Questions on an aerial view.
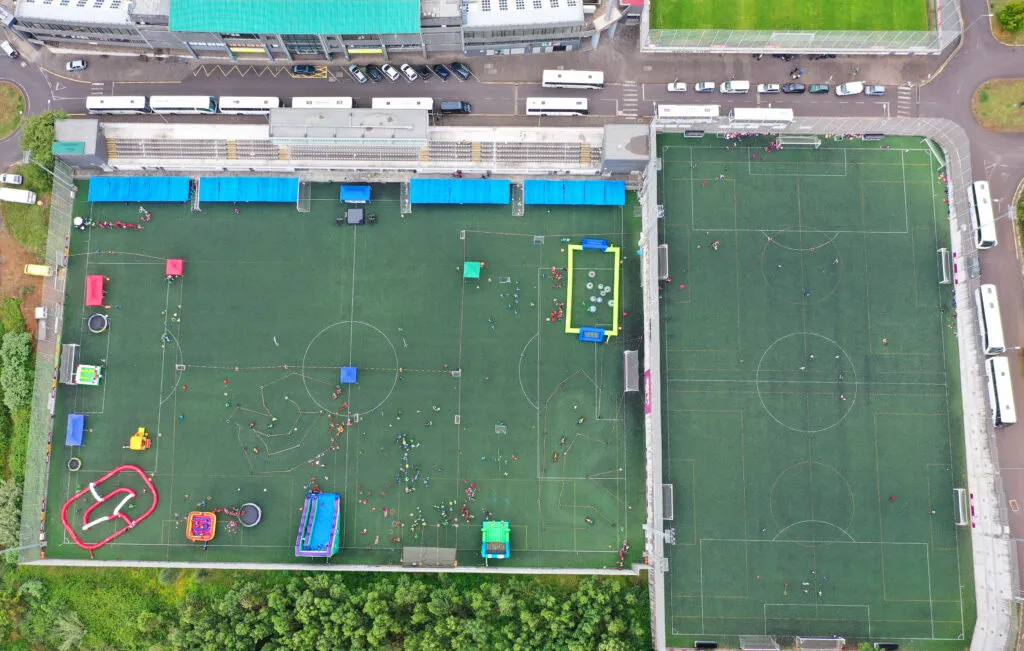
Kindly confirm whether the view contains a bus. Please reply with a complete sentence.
Yes, I can see a bus in this picture.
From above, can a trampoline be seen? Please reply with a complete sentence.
Yes, looking at the shot, I can spot a trampoline.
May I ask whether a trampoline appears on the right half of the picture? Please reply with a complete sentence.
No, on the right half of the picture there is no trampoline.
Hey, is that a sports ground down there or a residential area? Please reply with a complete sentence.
This image shows a sports ground.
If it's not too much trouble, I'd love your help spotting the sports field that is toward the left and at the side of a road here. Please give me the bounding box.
[38,179,644,569]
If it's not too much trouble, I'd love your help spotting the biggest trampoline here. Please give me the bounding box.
[238,503,263,527]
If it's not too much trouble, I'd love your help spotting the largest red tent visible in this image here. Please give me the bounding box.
[84,275,110,308]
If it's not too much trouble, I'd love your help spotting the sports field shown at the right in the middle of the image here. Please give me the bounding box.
[654,134,978,651]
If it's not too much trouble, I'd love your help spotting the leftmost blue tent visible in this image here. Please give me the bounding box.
[65,413,87,446]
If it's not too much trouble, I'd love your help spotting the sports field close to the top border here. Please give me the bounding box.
[646,0,939,45]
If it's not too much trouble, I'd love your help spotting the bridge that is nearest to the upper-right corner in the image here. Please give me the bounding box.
[566,0,630,47]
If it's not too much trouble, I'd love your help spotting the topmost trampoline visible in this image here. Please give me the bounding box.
[88,314,107,333]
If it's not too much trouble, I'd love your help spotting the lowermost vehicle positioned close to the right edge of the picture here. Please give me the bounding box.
[981,355,1020,427]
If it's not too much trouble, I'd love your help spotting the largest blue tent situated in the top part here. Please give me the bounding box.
[340,186,373,204]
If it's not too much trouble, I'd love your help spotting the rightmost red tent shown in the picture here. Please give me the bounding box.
[165,259,188,278]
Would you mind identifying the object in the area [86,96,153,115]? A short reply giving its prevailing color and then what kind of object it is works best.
white vehicle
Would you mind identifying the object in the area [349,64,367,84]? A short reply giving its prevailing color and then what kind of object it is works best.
gray car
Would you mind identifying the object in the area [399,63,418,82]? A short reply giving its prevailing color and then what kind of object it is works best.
white car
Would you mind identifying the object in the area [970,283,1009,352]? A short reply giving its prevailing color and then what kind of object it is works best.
white bus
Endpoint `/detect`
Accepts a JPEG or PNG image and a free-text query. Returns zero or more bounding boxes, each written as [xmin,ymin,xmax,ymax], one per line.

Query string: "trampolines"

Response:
[88,314,107,333]
[68,458,81,470]
[238,503,263,527]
